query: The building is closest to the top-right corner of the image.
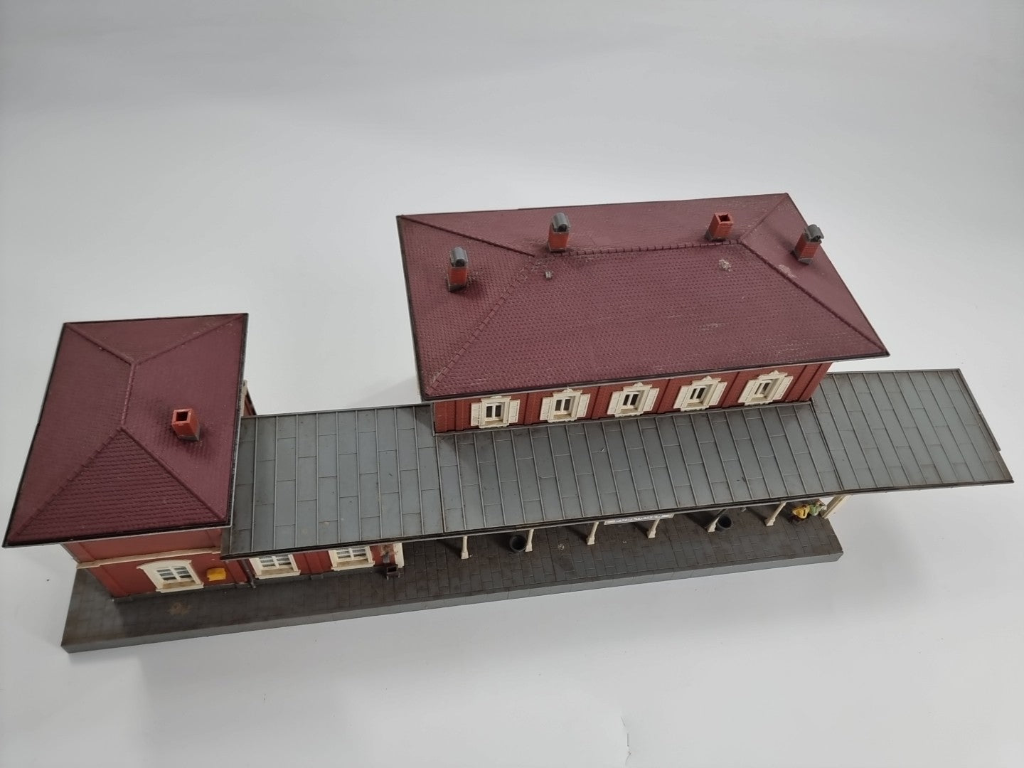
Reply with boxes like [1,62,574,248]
[399,192,888,433]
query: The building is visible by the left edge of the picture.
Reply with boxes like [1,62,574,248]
[3,313,256,604]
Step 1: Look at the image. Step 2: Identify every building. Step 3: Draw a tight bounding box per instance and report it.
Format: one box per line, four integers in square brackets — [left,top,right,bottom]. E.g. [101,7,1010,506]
[3,313,256,604]
[399,192,888,433]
